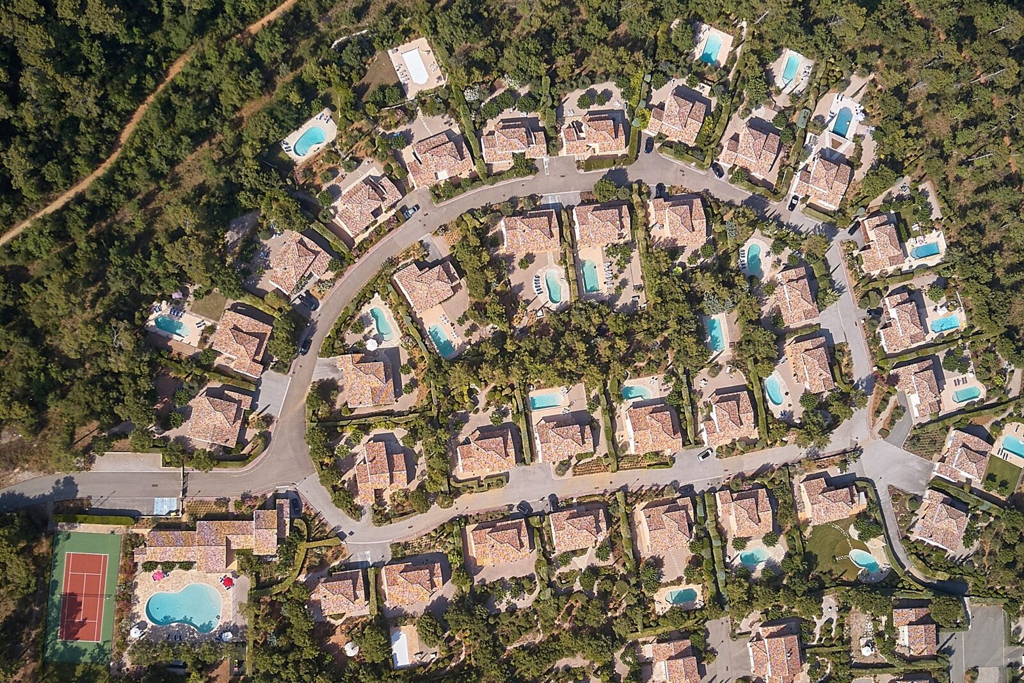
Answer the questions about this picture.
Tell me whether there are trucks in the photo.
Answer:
No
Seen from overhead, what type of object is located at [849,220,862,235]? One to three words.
vehicle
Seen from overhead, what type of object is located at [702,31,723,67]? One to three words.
swimming pool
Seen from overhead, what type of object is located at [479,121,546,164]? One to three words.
house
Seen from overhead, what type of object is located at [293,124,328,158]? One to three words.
swimming pool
